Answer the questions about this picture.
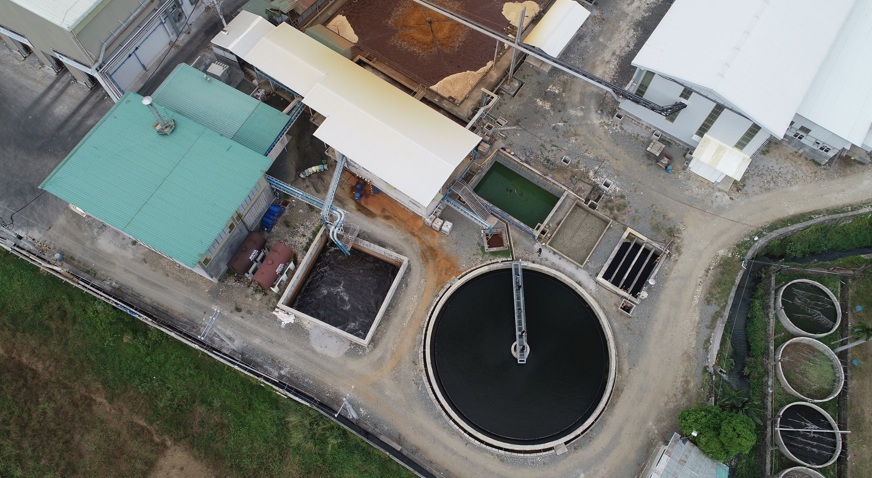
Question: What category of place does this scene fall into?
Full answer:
The area seen from above is an industrial area.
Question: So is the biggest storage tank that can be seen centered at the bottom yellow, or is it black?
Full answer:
From above, the biggest storage tank that can be seen centered at the bottom appears black.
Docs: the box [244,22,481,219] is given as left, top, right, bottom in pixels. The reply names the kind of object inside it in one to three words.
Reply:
house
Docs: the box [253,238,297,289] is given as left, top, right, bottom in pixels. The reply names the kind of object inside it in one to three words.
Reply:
storage tank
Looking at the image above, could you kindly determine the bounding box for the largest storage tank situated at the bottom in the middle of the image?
[421,256,617,456]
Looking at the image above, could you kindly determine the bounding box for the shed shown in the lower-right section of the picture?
[648,430,729,478]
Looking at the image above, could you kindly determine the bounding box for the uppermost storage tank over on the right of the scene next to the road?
[596,229,671,304]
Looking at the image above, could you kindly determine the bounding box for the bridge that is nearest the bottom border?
[511,256,529,362]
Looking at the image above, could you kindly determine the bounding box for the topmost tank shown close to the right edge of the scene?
[774,279,842,341]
